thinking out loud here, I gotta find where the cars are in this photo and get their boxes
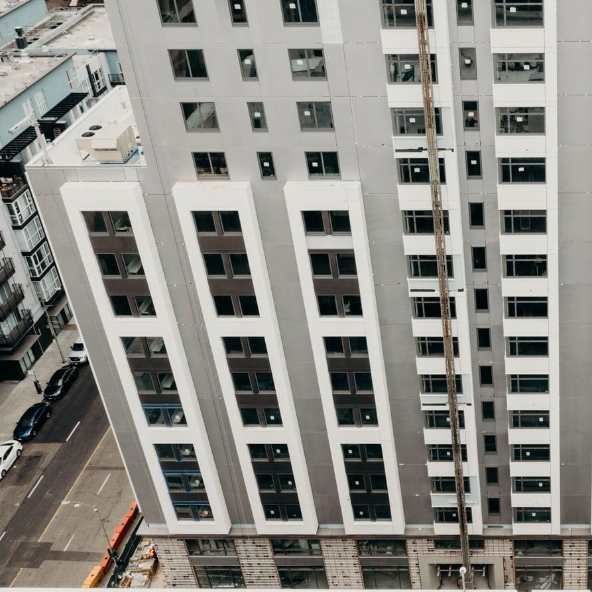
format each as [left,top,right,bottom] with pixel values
[16,402,54,435]
[0,439,26,477]
[44,366,79,397]
[64,334,86,362]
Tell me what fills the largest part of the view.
buildings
